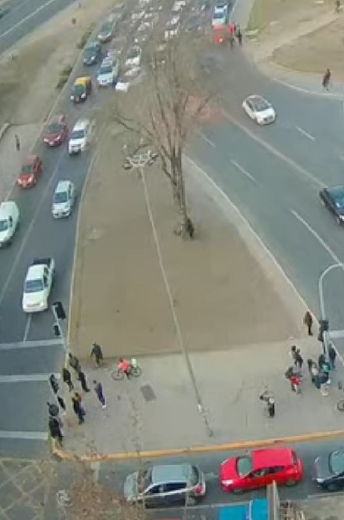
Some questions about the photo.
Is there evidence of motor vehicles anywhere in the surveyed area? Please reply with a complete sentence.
Yes, there's a motor vehicle here.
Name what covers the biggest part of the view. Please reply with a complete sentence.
The largest share of the image is taken up by paved ground.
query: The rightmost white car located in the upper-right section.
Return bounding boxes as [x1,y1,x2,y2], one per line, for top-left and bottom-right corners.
[246,96,273,122]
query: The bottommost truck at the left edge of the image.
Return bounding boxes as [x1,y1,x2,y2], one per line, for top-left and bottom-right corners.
[16,256,60,310]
